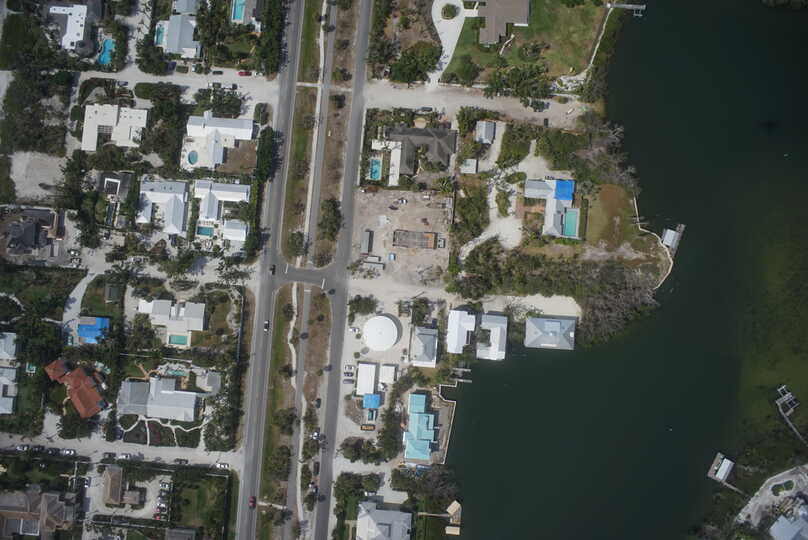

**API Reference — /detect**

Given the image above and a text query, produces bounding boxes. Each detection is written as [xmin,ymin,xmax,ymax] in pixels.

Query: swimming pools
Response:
[564,210,578,237]
[232,0,245,21]
[186,149,199,166]
[105,202,115,226]
[369,158,383,180]
[155,24,165,46]
[196,226,214,237]
[166,369,191,377]
[368,410,375,422]
[98,38,116,65]
[167,334,189,346]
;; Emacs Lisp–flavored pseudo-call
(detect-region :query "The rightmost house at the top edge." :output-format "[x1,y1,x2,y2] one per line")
[478,0,530,47]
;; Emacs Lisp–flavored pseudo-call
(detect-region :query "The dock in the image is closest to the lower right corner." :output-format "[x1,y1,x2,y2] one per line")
[775,384,808,447]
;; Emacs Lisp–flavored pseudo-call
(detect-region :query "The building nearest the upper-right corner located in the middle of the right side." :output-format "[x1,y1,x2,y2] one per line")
[661,223,686,257]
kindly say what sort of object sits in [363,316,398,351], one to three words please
building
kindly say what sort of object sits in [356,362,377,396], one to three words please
building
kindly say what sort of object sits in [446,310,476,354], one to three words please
house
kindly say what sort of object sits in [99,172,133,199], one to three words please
house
